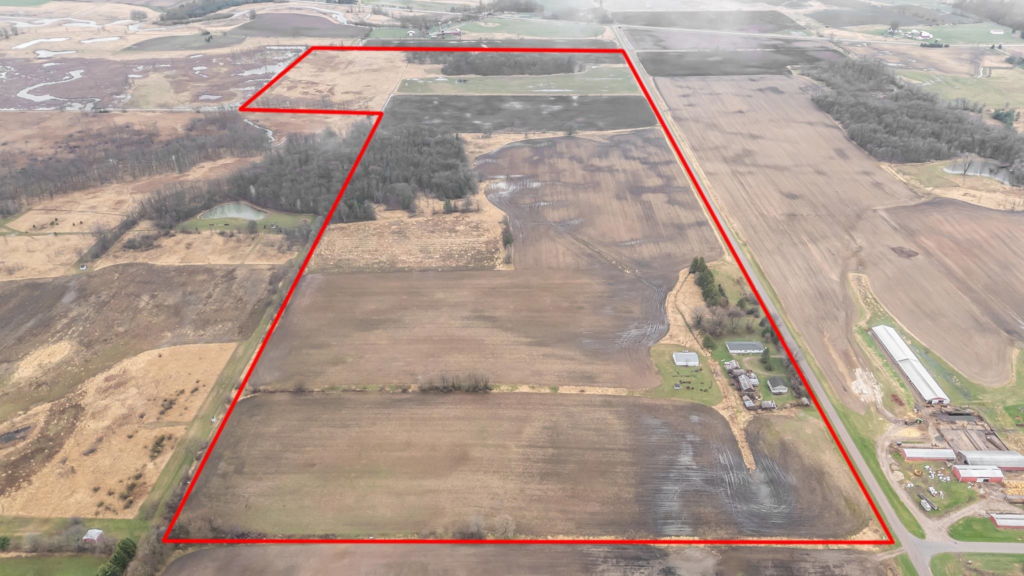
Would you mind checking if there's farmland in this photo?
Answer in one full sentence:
Yes, there is farmland in the image.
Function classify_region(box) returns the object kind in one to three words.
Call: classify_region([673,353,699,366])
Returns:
shed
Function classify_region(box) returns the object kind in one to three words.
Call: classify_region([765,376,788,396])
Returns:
house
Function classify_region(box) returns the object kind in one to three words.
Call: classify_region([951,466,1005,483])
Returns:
barn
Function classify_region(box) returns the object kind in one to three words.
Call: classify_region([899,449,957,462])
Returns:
barn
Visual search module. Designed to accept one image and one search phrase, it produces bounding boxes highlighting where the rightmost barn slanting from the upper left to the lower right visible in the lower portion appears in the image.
[870,324,950,405]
